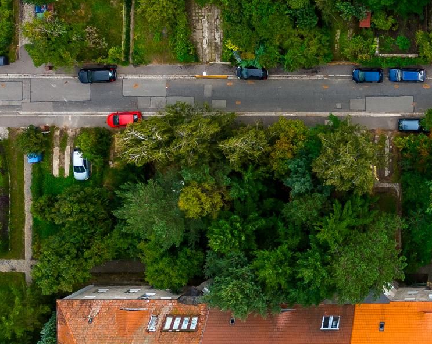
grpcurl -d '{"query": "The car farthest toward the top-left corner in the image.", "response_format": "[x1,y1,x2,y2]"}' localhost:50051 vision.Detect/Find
[80,67,119,84]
